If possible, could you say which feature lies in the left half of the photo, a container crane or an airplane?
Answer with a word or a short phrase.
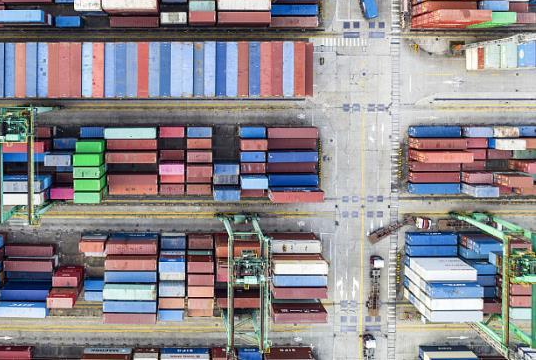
container crane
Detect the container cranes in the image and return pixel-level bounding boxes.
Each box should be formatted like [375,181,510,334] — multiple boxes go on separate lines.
[214,219,270,358]
[0,105,69,227]
[445,216,536,359]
